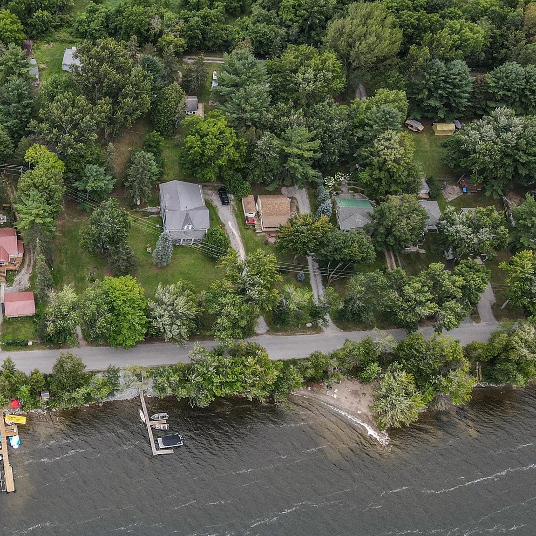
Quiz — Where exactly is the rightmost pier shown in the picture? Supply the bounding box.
[140,390,174,455]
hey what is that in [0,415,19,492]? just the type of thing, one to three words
pier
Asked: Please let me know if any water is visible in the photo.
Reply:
Yes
